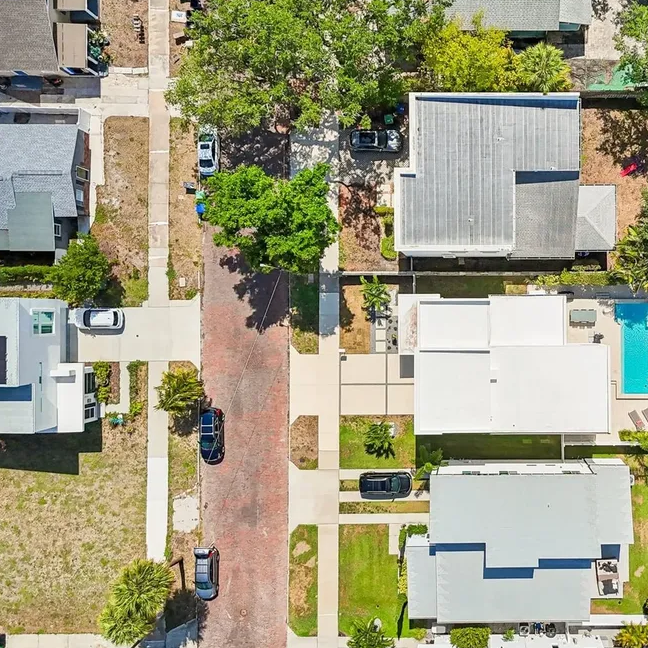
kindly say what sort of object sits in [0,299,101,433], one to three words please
house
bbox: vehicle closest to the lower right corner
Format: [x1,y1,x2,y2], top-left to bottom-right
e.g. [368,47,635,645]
[359,471,414,499]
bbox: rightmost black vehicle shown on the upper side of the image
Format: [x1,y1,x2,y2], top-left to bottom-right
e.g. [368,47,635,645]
[351,128,404,154]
